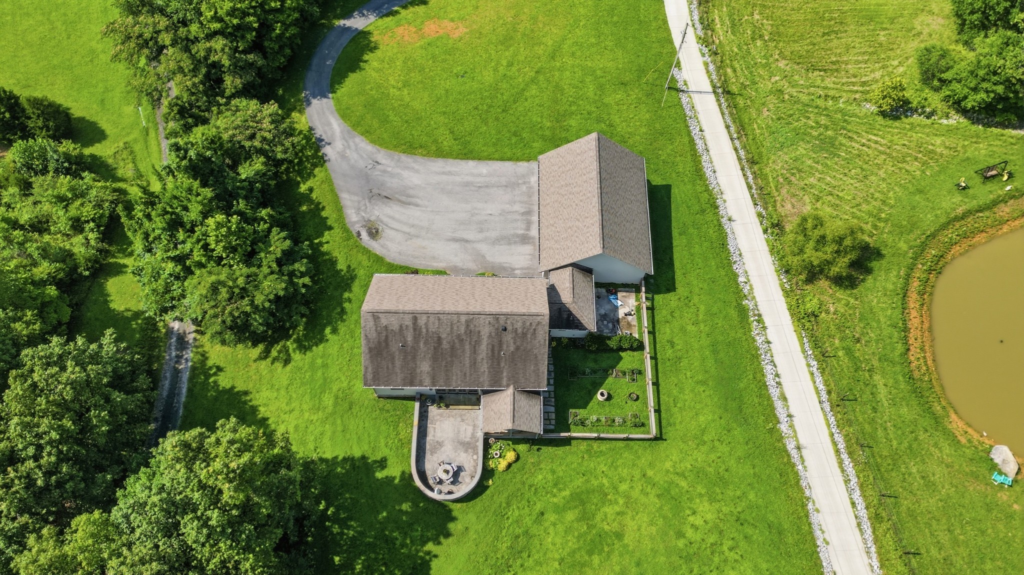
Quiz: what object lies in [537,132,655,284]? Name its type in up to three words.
building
